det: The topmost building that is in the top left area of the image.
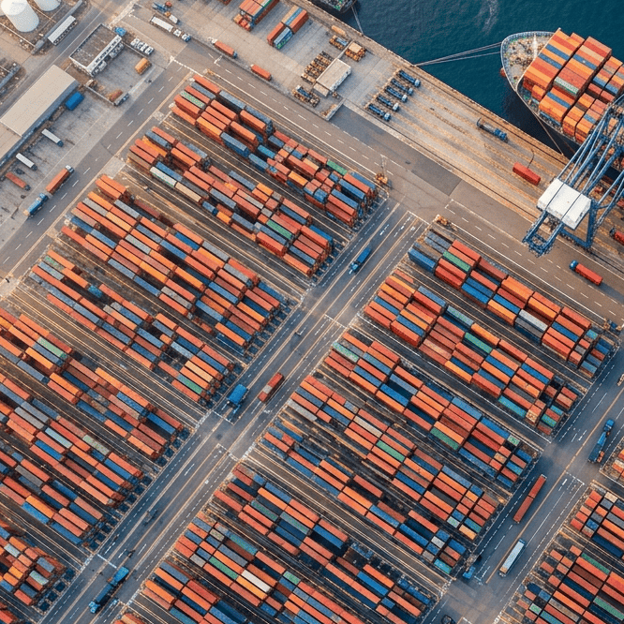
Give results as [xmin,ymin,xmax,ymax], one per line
[63,16,121,73]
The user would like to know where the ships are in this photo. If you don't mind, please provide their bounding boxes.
[497,34,624,186]
[310,0,365,23]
